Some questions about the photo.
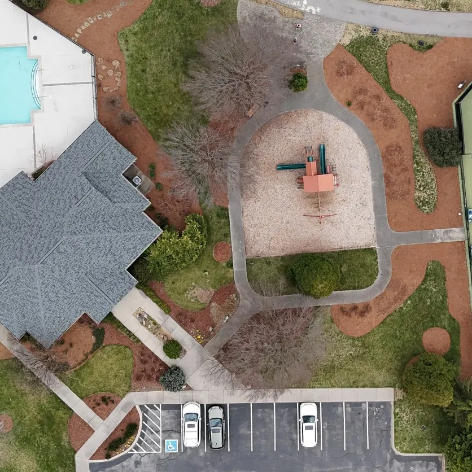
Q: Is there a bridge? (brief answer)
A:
No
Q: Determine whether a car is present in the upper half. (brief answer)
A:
No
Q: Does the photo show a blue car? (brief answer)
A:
No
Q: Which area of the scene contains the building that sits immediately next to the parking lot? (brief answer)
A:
left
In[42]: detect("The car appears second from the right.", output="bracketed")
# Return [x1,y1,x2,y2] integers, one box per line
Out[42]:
[206,405,226,451]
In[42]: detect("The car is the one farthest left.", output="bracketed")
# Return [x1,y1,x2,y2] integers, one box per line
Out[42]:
[181,401,202,448]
